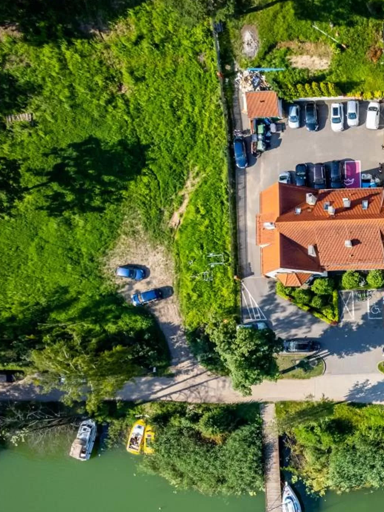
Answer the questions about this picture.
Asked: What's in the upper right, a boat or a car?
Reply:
car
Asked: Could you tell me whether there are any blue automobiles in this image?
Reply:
Yes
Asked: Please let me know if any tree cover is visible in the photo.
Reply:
Yes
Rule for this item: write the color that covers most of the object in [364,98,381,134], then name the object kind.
white vehicle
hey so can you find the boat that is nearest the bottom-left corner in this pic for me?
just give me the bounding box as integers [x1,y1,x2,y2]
[69,419,96,463]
